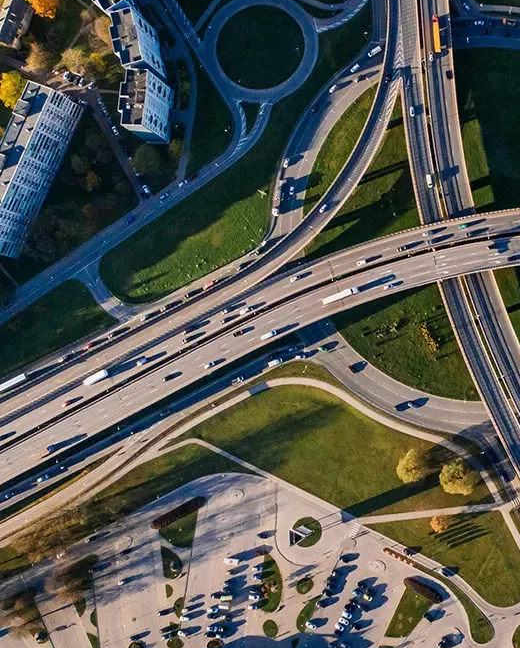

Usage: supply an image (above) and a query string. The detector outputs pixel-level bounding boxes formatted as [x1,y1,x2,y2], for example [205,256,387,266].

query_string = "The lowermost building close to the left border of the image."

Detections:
[0,79,87,259]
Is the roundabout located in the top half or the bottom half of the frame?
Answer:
top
